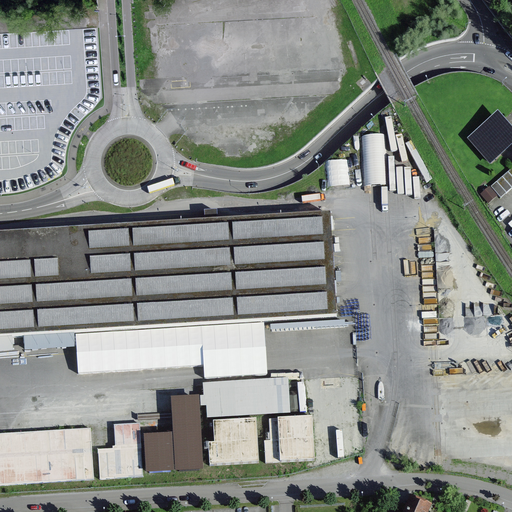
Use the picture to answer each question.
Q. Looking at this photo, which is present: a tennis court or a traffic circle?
traffic circle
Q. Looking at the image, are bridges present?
Yes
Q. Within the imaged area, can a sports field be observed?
No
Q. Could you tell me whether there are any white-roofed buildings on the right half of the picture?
Yes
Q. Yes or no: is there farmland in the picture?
No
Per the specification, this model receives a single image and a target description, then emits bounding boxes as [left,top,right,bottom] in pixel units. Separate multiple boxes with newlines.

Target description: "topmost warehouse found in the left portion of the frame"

[0,208,337,336]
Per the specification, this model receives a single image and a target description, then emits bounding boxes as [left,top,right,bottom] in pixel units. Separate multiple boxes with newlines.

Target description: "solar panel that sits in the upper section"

[468,110,512,162]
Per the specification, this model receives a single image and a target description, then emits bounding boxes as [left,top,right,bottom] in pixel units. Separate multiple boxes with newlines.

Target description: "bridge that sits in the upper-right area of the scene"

[374,56,418,118]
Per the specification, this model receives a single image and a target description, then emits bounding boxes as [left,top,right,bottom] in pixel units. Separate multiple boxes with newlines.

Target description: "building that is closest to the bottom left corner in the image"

[0,428,94,485]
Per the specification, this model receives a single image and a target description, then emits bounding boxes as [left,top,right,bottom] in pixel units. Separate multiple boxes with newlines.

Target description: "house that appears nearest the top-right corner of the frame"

[466,108,512,164]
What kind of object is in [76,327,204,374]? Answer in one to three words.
building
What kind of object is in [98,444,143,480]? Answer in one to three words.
building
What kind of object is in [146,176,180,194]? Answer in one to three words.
vehicle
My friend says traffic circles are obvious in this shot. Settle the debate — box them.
[84,116,173,206]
